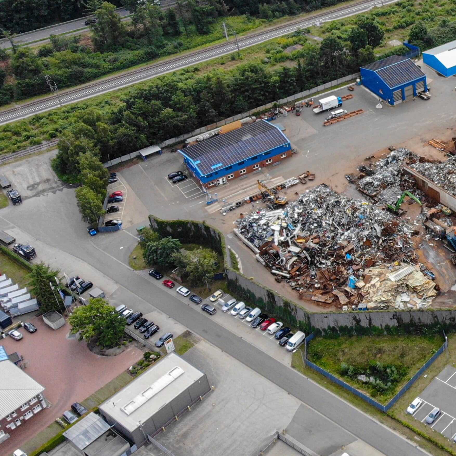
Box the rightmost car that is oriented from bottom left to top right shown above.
[425,406,443,426]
